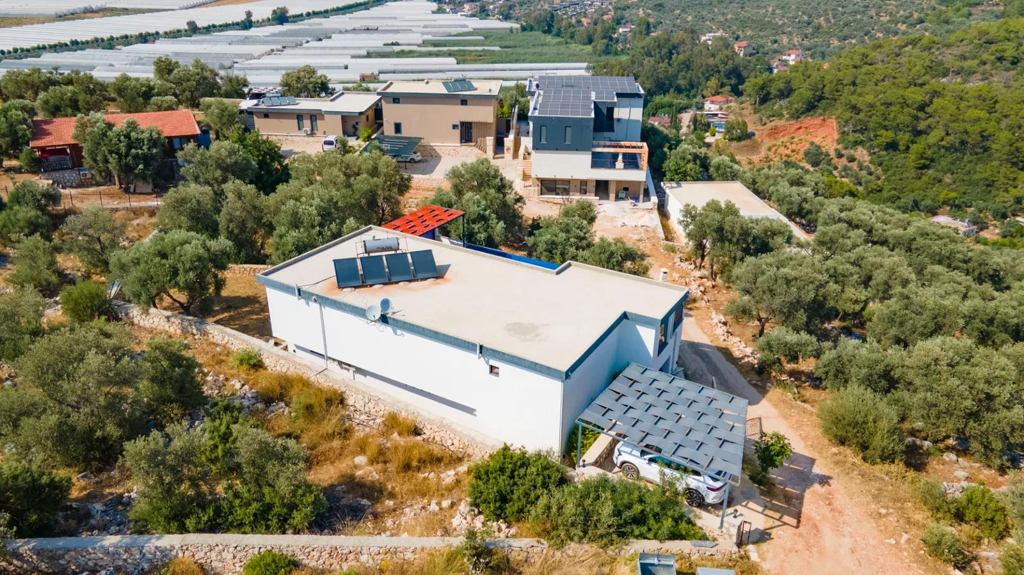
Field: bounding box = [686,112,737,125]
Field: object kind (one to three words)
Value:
shed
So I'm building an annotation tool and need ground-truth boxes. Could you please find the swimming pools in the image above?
[454,236,563,268]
